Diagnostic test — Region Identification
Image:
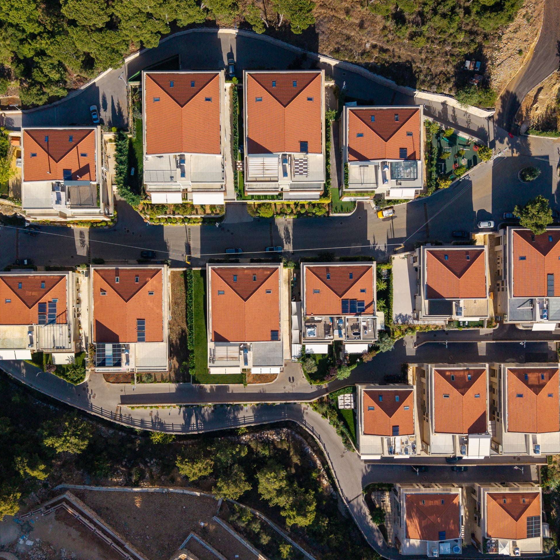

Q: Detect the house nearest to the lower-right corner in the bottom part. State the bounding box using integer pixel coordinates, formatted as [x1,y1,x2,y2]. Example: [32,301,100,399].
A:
[465,478,543,557]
